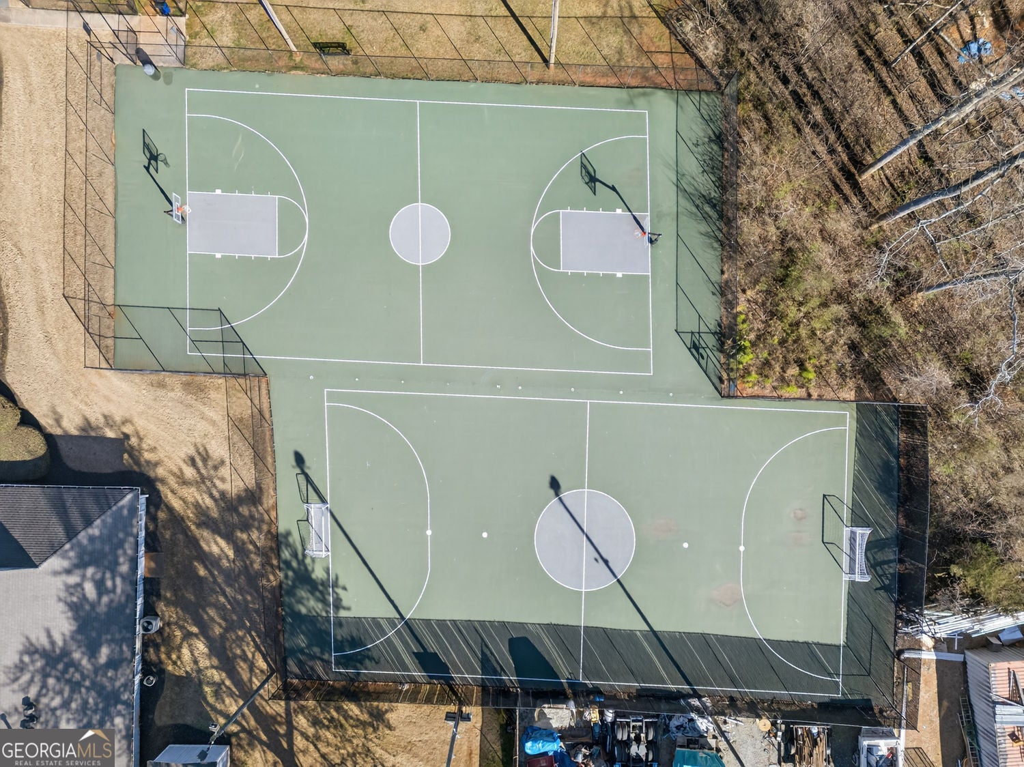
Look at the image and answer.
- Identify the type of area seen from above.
sports ground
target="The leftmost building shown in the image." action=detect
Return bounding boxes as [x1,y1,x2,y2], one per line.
[0,484,166,767]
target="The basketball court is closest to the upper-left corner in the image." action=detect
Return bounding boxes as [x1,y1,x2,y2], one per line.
[113,63,722,397]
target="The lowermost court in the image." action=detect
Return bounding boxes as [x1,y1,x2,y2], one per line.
[267,376,898,710]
